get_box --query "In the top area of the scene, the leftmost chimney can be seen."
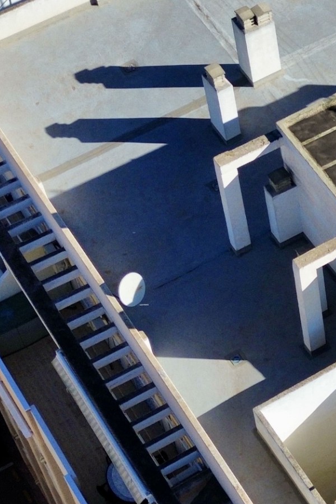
[203,61,245,144]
